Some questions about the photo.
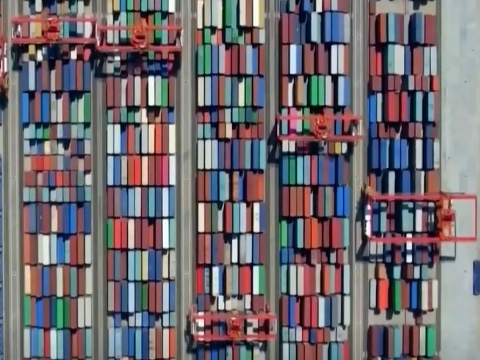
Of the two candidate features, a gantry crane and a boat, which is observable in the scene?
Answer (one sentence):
This aerial view contains a gantry crane.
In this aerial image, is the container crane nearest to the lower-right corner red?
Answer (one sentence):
Yes, the container crane nearest to the lower-right corner appears red.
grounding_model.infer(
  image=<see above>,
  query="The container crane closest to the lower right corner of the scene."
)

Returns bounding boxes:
[357,188,477,245]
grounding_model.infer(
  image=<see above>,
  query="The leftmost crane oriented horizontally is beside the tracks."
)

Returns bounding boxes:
[7,12,101,55]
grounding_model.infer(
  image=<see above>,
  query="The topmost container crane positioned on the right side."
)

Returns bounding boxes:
[271,105,366,148]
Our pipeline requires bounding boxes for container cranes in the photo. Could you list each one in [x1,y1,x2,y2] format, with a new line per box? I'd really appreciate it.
[357,188,477,245]
[93,19,185,63]
[271,105,366,148]
[188,297,279,344]
[7,12,101,55]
